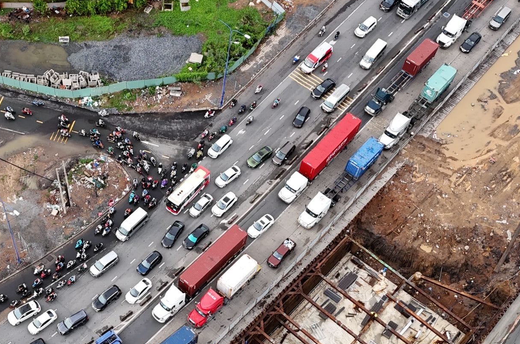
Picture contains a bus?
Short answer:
Yes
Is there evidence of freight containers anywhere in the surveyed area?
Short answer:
Yes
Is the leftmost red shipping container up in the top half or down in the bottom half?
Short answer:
bottom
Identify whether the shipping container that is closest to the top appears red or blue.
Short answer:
red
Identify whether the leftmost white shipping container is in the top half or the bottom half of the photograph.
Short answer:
bottom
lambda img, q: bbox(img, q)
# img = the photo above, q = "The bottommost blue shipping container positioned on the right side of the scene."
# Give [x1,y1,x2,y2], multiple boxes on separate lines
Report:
[342,134,386,179]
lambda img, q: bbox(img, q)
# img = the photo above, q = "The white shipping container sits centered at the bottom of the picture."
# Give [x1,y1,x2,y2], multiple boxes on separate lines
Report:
[215,251,261,300]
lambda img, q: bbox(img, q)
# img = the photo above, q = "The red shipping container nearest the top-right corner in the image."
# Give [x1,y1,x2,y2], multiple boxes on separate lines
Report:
[400,38,439,79]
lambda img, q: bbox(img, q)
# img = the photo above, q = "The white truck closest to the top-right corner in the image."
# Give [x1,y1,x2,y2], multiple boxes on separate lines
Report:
[432,12,469,48]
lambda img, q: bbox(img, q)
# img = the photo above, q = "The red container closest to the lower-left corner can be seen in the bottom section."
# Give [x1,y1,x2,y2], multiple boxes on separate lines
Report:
[177,222,250,300]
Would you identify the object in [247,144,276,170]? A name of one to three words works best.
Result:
car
